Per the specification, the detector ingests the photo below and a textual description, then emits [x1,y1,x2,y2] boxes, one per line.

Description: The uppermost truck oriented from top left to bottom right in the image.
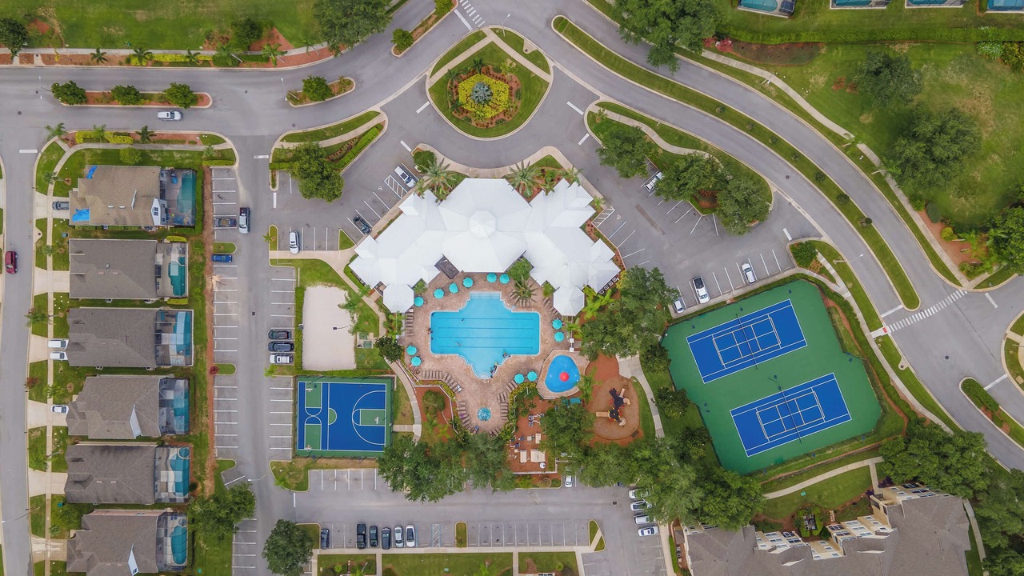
[393,164,417,189]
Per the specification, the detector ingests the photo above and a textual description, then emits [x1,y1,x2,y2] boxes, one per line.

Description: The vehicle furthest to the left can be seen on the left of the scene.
[5,250,19,272]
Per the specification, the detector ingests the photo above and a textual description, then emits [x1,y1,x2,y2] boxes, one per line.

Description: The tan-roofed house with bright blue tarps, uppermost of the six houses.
[69,165,166,226]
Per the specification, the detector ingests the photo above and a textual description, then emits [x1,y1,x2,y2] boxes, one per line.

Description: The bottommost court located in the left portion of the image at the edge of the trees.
[296,378,391,459]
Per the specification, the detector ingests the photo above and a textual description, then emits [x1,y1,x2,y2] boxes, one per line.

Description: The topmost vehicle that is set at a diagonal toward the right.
[643,170,665,192]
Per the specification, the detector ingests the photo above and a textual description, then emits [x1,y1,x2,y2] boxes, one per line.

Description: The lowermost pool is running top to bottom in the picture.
[171,518,187,565]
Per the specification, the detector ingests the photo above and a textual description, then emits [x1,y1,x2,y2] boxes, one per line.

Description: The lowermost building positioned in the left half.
[66,510,168,576]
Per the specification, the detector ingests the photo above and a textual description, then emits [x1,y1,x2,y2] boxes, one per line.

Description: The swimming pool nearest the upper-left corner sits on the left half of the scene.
[175,170,194,214]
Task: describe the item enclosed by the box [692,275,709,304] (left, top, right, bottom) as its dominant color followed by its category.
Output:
white vehicle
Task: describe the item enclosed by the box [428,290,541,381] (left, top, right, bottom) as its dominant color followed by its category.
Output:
blue swimming pool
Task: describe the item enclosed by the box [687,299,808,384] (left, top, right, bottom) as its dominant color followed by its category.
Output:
blue tennis court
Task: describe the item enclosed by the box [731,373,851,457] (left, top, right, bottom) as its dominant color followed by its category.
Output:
blue tennis court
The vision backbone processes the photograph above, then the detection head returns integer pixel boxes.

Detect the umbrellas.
[463,277,473,288]
[552,319,562,330]
[487,273,497,283]
[554,332,564,342]
[434,288,444,298]
[527,371,537,381]
[414,297,424,307]
[407,345,417,355]
[514,373,524,384]
[499,273,510,284]
[411,356,422,366]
